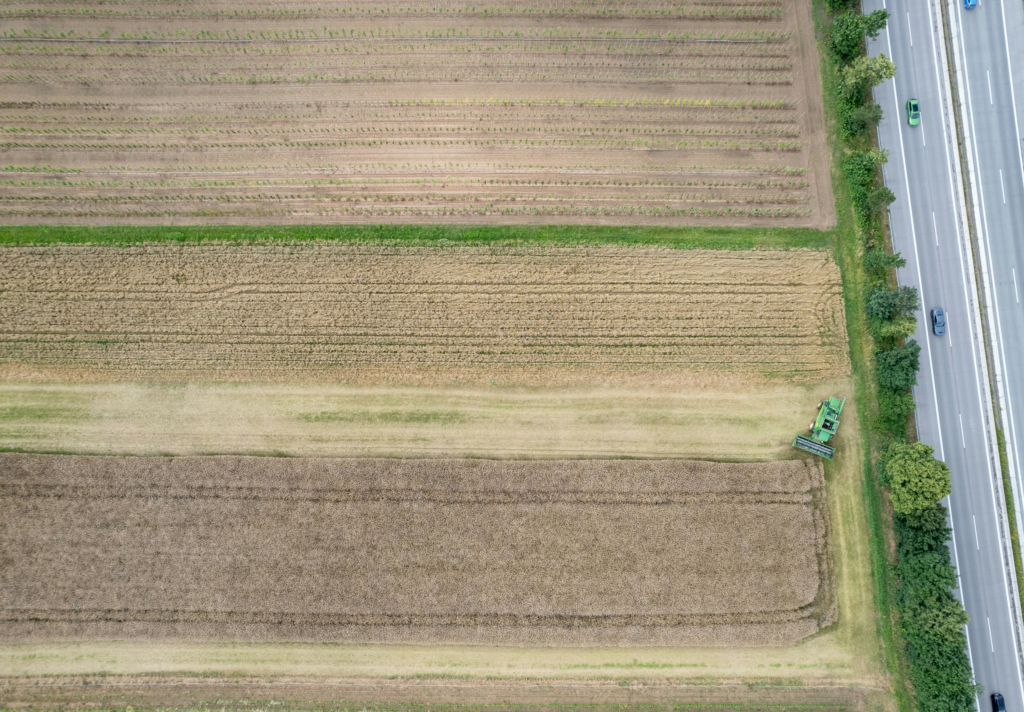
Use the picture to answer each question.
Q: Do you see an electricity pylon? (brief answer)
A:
No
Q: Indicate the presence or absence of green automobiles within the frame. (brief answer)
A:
Yes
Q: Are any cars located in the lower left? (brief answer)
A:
No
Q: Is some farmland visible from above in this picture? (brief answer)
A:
Yes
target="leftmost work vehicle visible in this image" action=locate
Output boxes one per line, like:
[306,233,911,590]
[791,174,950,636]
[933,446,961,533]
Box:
[790,394,846,462]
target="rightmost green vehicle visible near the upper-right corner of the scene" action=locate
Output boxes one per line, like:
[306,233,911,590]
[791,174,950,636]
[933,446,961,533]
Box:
[905,99,922,126]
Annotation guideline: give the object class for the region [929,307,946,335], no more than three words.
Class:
car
